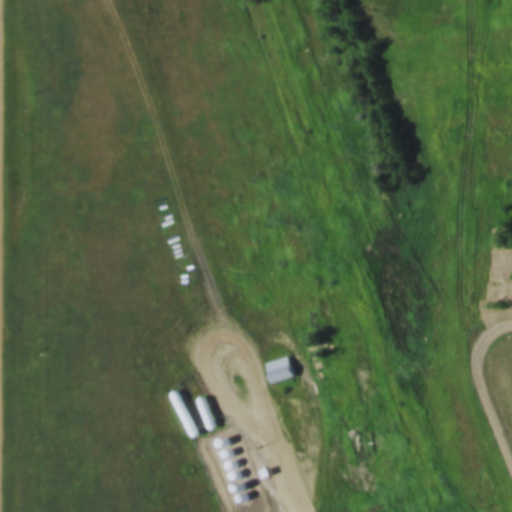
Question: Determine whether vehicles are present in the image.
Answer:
No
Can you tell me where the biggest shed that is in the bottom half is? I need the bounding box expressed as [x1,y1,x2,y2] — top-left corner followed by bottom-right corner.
[265,356,296,384]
